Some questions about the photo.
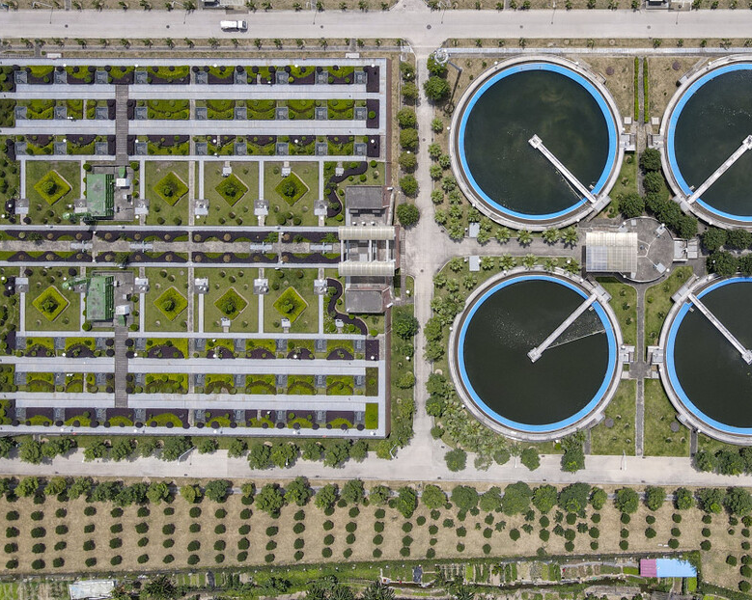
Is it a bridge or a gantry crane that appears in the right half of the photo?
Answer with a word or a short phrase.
bridge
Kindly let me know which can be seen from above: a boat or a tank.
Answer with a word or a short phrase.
tank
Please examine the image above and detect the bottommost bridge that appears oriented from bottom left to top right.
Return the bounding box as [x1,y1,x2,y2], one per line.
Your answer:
[531,292,605,360]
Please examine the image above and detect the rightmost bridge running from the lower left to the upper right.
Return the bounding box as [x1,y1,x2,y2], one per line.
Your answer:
[685,137,752,206]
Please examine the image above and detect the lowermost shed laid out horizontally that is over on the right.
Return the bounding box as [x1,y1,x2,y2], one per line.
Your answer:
[640,554,697,576]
